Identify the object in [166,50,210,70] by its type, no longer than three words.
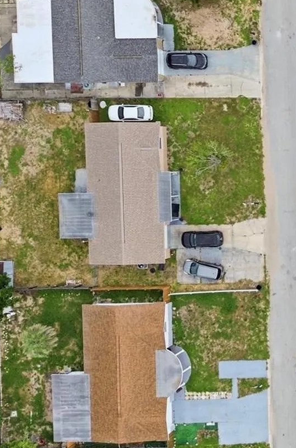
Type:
car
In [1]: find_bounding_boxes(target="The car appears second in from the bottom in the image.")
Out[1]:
[183,230,225,249]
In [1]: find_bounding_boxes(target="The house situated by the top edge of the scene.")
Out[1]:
[12,0,174,84]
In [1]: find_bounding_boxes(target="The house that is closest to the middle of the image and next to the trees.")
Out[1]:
[58,121,190,266]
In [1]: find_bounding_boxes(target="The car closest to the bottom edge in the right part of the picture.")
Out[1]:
[184,257,227,281]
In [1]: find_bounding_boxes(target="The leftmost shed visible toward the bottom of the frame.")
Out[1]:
[0,260,24,286]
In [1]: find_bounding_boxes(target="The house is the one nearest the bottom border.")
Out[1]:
[52,302,193,446]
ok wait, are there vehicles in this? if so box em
[183,230,225,249]
[184,257,227,281]
[166,50,210,70]
[110,103,156,122]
